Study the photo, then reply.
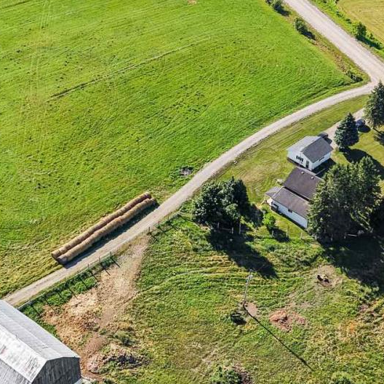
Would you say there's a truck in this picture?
No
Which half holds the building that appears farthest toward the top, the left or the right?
right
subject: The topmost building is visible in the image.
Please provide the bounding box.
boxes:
[286,135,331,170]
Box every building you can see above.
[260,169,345,229]
[286,135,331,170]
[0,299,84,384]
